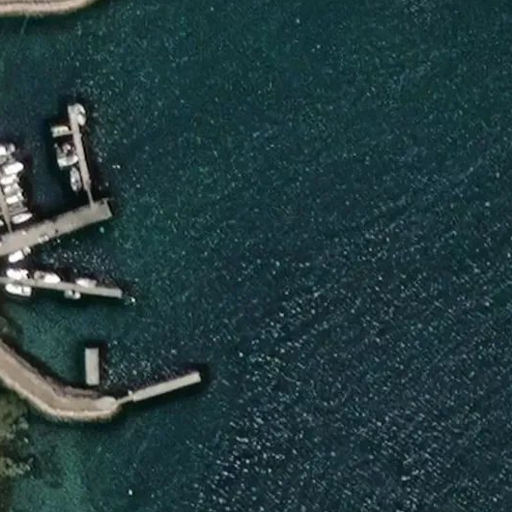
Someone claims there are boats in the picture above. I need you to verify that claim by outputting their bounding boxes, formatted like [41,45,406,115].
[0,154,16,164]
[1,184,23,194]
[6,283,34,296]
[7,268,31,280]
[7,203,27,214]
[5,193,25,204]
[56,155,78,167]
[1,163,24,176]
[69,164,82,190]
[32,270,61,283]
[54,143,74,153]
[10,213,34,224]
[0,144,16,155]
[76,106,89,128]
[0,173,19,185]
[50,127,69,137]
[9,245,31,261]
[62,290,80,299]
[76,278,99,287]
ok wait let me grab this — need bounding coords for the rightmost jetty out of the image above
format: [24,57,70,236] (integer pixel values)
[133,372,200,401]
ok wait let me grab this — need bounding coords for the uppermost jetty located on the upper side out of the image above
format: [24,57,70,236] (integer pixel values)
[52,105,91,188]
